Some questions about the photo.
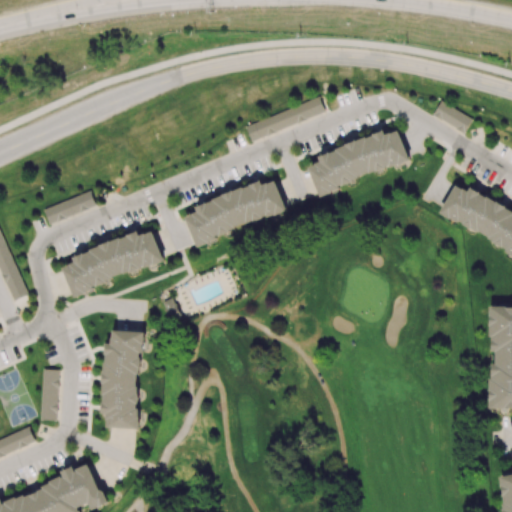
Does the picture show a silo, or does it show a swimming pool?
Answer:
swimming pool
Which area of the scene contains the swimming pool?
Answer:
center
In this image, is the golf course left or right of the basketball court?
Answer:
on its right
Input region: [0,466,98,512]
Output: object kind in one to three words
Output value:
building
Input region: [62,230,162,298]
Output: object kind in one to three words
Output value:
building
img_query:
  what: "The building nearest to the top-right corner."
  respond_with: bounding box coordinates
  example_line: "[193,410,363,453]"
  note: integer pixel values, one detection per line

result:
[435,101,474,132]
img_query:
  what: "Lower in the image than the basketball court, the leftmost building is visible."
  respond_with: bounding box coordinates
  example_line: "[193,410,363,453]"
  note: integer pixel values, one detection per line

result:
[0,426,35,456]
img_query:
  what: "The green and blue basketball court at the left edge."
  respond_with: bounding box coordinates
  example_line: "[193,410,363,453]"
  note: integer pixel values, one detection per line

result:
[0,368,38,426]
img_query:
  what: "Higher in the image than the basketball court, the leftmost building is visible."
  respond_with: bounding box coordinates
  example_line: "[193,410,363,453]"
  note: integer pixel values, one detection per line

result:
[0,235,28,301]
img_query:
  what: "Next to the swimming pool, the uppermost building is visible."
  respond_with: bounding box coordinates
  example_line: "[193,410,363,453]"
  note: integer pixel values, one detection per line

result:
[186,180,287,247]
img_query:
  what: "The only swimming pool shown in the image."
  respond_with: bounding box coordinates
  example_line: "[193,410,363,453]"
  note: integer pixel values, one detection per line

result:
[178,266,238,316]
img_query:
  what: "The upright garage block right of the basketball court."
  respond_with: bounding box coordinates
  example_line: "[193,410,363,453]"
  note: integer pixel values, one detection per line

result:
[44,369,60,421]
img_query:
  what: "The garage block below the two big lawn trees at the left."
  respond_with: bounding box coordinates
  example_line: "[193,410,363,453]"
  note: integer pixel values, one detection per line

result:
[44,190,96,226]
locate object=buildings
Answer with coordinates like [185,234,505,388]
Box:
[443,180,512,254]
[311,130,412,196]
[485,310,512,408]
[62,230,162,298]
[44,369,60,421]
[0,466,98,512]
[497,480,512,512]
[186,180,287,247]
[0,426,35,456]
[44,190,96,226]
[246,94,326,143]
[0,235,28,301]
[99,330,142,430]
[435,101,474,132]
